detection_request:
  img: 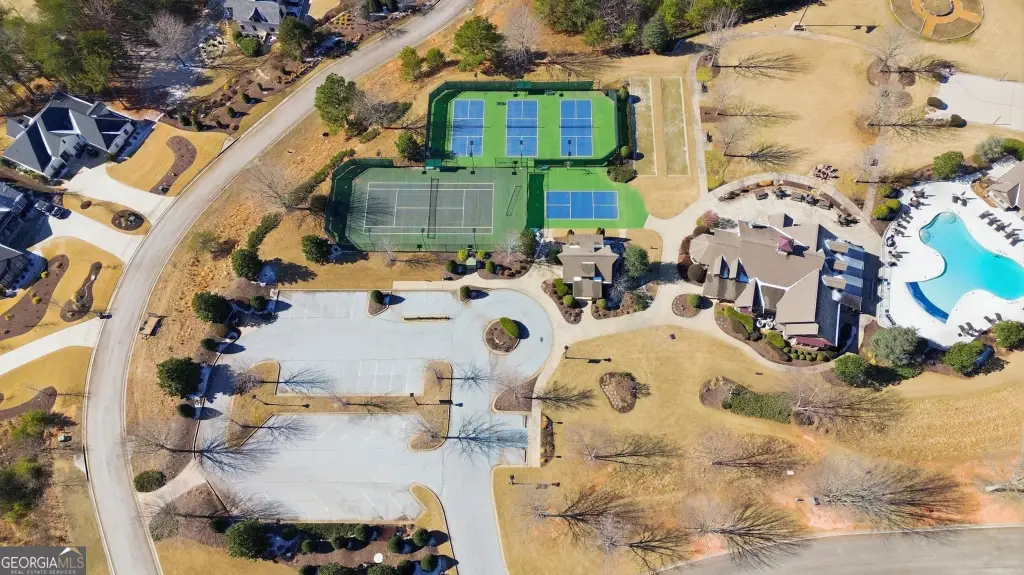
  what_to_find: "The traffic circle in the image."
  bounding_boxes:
[481,316,523,355]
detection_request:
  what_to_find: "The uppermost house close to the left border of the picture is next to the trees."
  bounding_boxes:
[0,92,144,193]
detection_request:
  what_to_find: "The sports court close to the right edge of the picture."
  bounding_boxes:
[925,72,1024,131]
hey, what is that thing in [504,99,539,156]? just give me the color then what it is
blue sports court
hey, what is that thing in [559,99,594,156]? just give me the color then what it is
blue sports court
